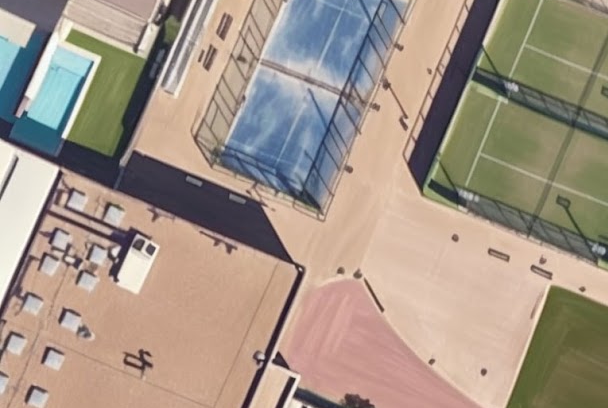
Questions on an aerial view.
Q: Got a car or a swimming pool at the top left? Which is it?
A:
swimming pool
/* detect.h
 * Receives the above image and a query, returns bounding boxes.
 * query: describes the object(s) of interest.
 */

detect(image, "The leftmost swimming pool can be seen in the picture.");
[0,29,47,124]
